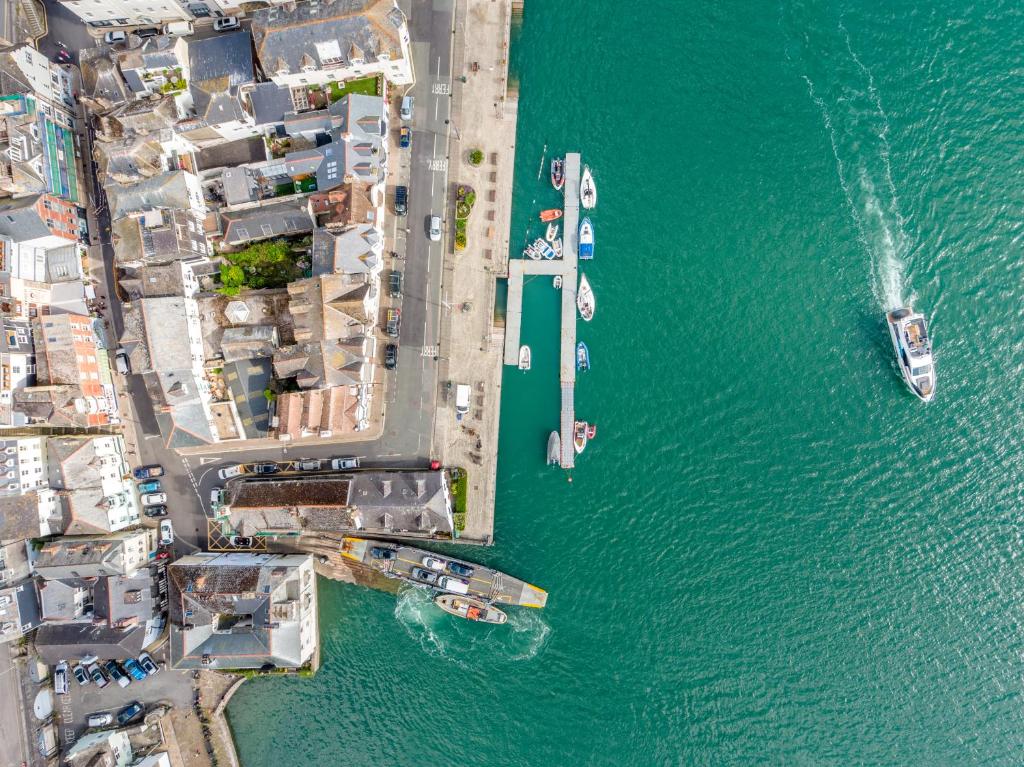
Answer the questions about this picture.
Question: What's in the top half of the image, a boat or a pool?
boat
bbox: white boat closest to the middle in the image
[519,346,531,371]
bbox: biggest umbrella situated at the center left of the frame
[226,298,248,323]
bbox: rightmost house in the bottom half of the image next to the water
[350,467,454,534]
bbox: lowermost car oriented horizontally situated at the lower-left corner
[86,711,115,726]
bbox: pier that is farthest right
[504,153,580,468]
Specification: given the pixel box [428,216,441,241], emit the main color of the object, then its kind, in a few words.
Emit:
white vehicle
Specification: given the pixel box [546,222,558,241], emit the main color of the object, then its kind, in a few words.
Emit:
white boat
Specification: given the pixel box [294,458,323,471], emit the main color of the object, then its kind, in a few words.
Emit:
gray vehicle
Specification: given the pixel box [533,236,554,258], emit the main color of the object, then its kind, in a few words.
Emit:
white boat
